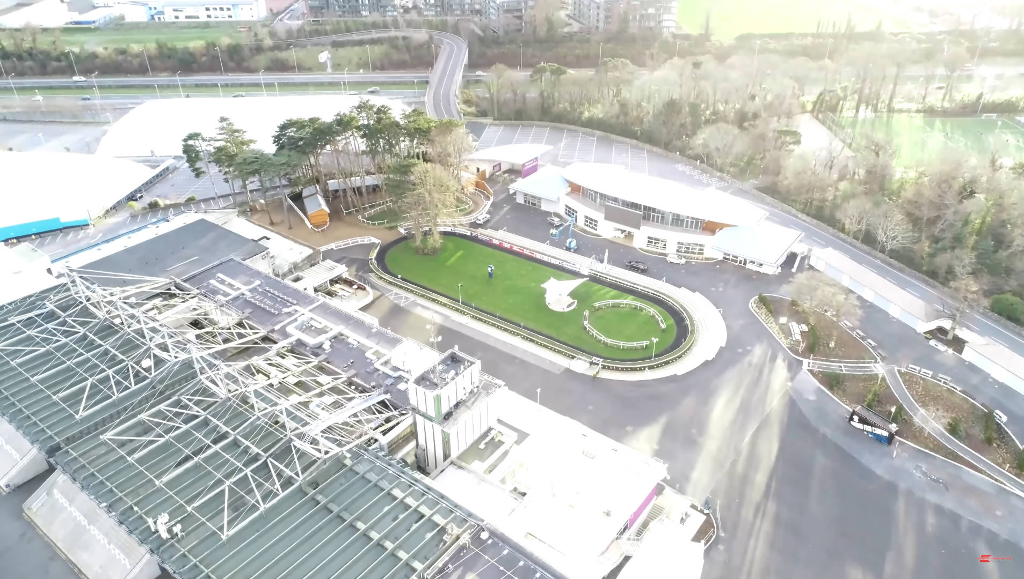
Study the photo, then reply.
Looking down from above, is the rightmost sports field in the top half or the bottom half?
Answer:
top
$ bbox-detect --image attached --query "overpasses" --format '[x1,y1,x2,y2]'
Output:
[210,27,471,128]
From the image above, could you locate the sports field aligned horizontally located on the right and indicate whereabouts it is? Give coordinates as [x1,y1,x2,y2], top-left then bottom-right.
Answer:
[831,116,1024,177]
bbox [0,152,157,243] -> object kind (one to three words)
building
